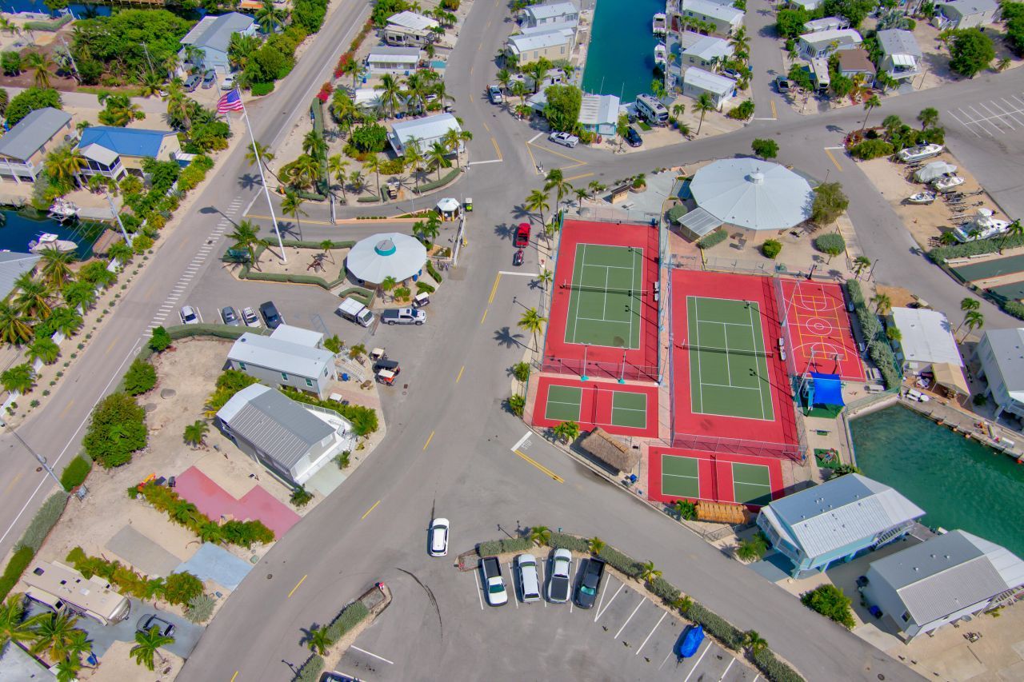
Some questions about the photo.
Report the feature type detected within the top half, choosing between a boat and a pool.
boat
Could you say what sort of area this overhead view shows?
residential area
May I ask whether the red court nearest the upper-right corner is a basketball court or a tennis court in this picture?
basketball court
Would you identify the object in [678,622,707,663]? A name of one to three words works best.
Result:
boat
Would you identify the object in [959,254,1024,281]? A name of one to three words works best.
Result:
sports court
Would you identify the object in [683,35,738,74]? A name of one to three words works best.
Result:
house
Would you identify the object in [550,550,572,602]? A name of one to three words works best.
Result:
vehicle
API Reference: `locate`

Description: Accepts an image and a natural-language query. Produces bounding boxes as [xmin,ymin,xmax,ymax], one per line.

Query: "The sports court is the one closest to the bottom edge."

[648,446,783,514]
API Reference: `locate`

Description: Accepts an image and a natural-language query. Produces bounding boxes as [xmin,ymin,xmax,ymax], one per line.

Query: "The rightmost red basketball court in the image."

[774,277,865,381]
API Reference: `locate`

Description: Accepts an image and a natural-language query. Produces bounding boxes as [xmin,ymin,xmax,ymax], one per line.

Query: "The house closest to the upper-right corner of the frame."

[932,0,999,34]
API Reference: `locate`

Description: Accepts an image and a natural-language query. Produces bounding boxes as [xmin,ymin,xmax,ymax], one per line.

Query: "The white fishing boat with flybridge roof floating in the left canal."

[28,231,78,254]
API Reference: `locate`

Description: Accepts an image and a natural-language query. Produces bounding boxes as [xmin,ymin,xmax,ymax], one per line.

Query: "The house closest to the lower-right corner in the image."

[863,517,1024,642]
